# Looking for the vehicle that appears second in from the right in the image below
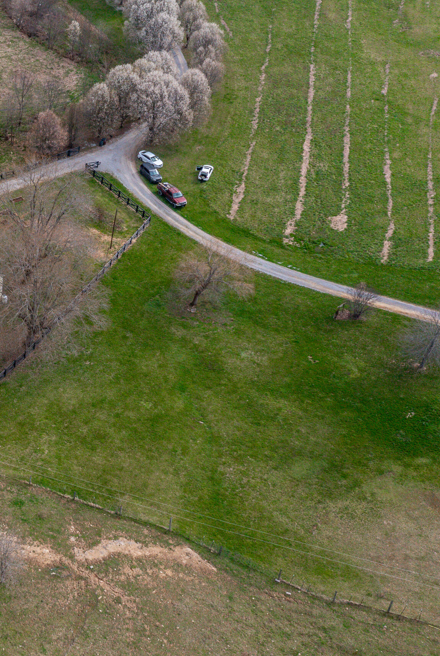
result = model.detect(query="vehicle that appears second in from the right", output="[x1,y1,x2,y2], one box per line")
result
[157,184,189,209]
